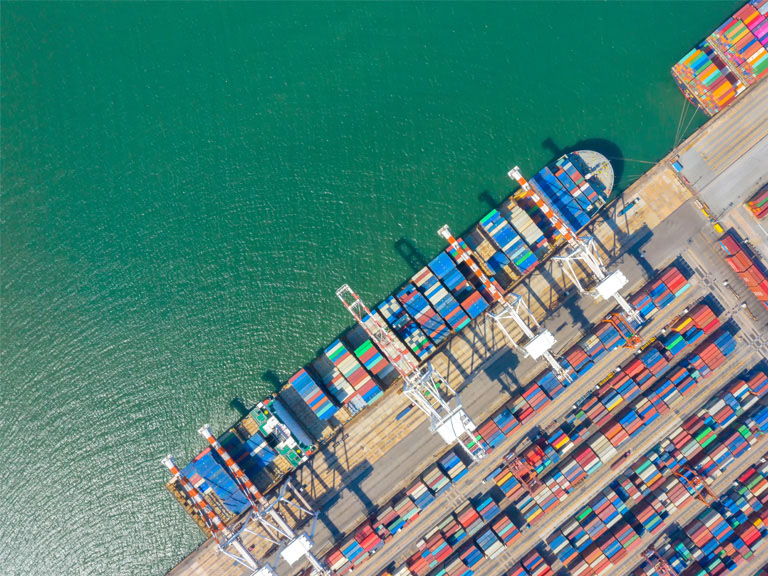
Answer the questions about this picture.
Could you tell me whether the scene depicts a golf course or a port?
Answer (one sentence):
What you see here is a port.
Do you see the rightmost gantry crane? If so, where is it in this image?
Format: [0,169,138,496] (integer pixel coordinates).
[668,461,714,504]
